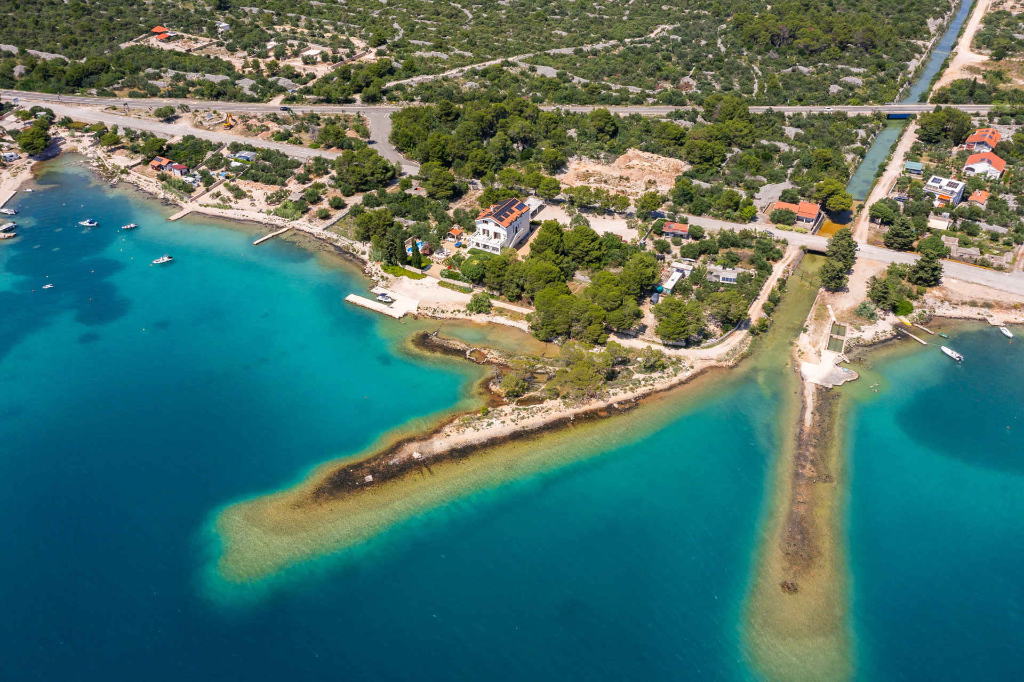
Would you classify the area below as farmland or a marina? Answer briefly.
marina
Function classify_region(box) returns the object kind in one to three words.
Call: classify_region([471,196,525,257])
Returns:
house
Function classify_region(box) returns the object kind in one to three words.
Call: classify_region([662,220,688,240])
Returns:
building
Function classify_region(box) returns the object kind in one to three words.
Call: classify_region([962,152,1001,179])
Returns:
house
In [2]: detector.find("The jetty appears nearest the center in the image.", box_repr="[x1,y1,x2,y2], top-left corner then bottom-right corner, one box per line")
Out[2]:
[345,286,420,321]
